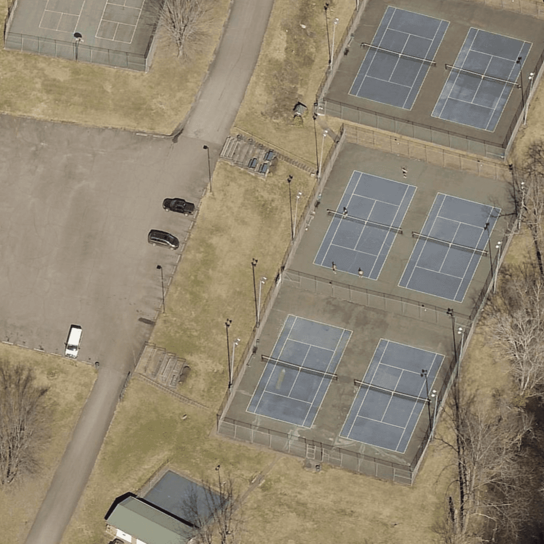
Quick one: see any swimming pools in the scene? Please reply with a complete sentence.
No, there's no swimming pool here.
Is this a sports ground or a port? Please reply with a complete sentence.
This image shows a sports ground.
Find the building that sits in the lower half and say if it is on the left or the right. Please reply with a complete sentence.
It is on the left.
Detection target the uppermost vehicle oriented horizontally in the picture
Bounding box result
[160,200,196,217]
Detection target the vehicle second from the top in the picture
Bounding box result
[148,232,180,251]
